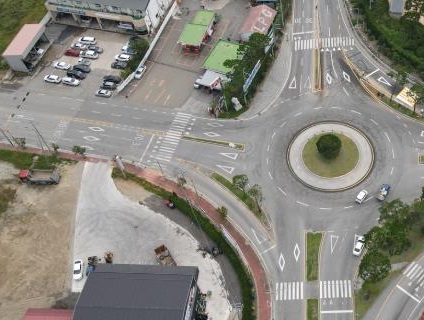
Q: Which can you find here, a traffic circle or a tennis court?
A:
traffic circle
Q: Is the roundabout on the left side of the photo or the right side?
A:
right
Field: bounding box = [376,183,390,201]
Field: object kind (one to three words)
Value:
vehicle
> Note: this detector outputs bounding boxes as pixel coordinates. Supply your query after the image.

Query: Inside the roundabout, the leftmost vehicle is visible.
[356,190,369,204]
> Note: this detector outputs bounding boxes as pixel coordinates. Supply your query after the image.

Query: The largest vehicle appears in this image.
[17,169,61,184]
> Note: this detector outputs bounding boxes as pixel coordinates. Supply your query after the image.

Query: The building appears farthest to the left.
[2,25,46,68]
